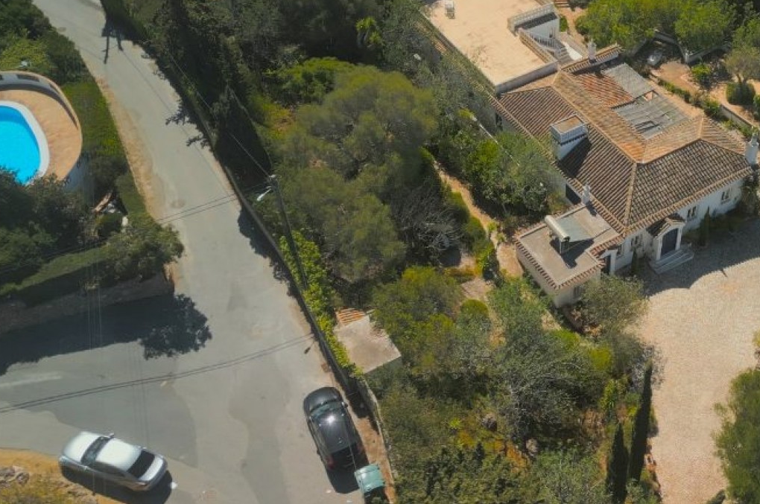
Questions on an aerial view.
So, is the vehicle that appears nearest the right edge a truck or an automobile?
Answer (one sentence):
Specifically, the vehicle that appears nearest the right edge is an automobile.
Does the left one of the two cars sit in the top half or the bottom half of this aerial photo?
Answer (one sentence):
The left one of the two cars is in the bottom half of the image.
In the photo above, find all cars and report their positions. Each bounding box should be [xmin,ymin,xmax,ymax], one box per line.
[69,435,166,498]
[306,390,364,477]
